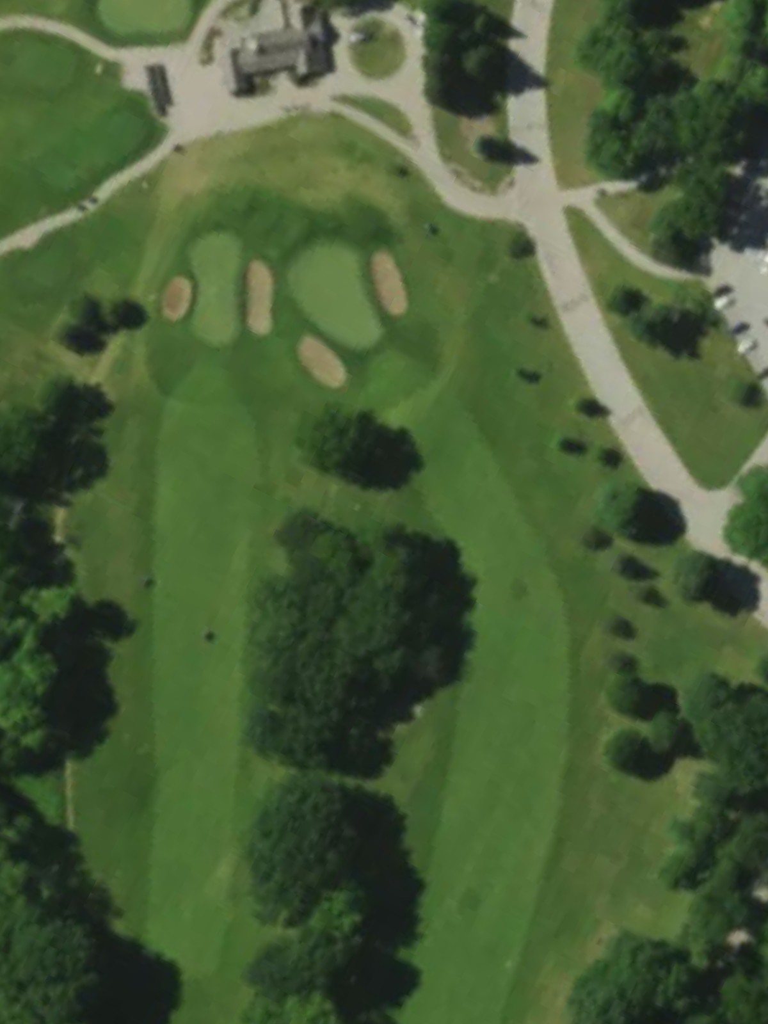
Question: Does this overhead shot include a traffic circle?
Yes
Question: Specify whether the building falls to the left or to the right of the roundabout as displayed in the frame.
on the left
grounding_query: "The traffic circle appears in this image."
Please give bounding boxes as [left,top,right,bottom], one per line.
[333,3,421,93]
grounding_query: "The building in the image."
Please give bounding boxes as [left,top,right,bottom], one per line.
[231,14,329,98]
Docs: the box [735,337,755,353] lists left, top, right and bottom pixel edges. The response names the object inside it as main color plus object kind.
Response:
white car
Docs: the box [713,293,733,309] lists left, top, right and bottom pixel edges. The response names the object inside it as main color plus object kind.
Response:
white car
